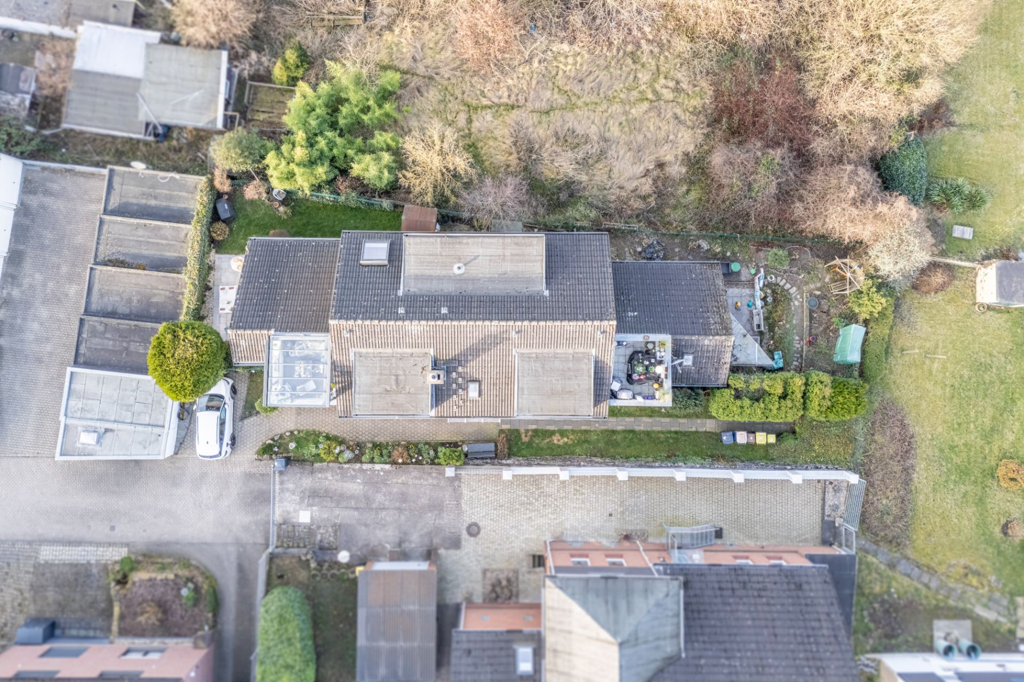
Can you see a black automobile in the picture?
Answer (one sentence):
No, no black automobile can be seen from above.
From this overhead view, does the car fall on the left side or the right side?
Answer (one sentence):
The car is on the left side of the image.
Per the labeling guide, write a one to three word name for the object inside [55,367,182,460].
building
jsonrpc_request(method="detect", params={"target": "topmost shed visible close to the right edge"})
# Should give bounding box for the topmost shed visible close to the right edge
[953,260,1024,309]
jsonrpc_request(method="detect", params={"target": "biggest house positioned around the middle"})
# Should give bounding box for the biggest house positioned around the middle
[327,228,618,423]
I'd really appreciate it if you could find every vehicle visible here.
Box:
[190,376,240,457]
